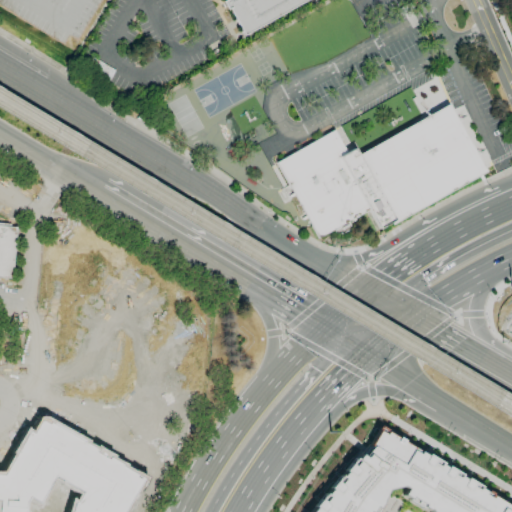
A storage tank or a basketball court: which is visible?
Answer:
basketball court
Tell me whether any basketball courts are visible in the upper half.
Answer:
Yes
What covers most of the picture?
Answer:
paved ground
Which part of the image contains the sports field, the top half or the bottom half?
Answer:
top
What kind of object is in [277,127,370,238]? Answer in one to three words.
building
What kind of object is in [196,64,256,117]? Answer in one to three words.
basketball court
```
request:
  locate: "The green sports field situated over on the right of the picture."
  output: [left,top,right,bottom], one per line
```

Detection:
[270,0,371,74]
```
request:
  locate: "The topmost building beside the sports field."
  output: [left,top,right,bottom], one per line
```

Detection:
[226,0,308,36]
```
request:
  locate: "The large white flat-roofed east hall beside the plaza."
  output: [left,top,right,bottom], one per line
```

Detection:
[361,104,484,219]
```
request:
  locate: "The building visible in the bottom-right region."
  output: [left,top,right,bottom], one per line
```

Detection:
[309,426,512,512]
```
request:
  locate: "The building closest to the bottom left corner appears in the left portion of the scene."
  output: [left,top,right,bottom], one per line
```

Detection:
[0,416,149,512]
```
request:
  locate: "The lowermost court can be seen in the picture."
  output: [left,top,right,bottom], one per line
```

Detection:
[170,95,204,136]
